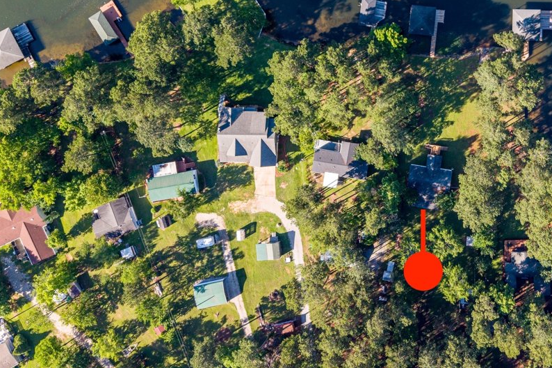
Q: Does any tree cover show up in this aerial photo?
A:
Yes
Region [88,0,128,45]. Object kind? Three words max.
building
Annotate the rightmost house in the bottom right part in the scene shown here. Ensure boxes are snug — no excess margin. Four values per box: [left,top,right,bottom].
[504,238,547,297]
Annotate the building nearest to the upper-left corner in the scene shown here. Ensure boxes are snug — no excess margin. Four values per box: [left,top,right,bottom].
[0,22,36,70]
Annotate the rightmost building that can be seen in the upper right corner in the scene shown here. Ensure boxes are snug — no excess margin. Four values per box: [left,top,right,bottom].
[512,9,552,40]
